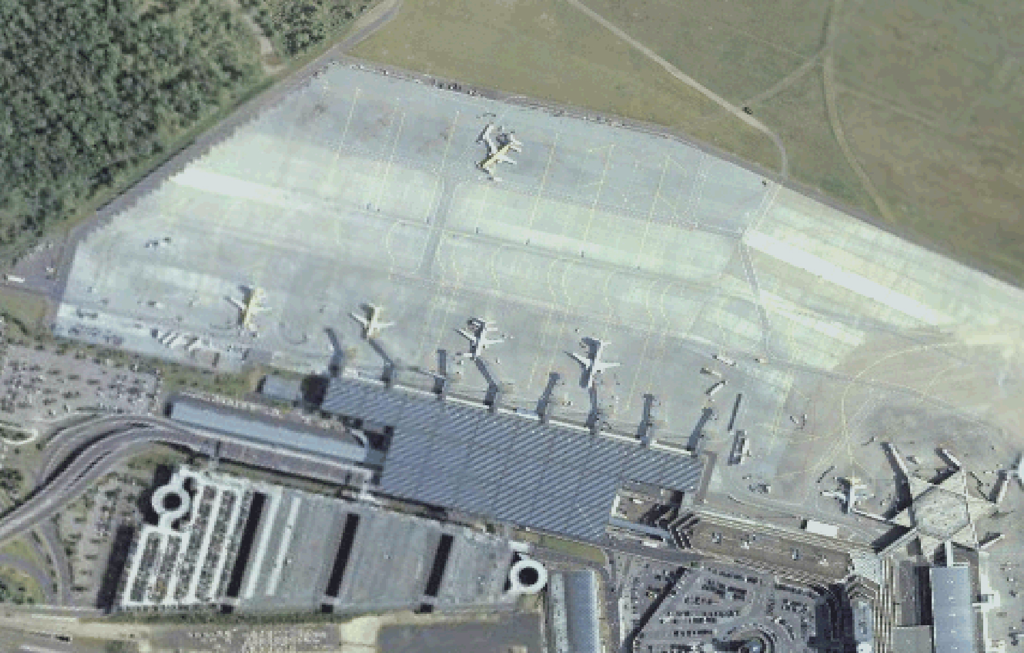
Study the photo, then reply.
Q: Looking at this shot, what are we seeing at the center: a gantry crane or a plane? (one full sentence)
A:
There is a plane at the center.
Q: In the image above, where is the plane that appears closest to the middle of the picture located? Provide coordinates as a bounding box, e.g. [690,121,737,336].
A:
[462,316,505,358]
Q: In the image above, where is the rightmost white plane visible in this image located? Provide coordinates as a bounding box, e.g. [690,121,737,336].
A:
[828,473,877,515]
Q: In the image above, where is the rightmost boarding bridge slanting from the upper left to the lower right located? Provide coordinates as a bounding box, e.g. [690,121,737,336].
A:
[940,448,966,471]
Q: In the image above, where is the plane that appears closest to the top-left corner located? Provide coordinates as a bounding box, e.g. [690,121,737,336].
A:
[234,284,275,329]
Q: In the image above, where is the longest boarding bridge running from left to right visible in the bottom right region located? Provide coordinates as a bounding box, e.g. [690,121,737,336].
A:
[852,508,895,522]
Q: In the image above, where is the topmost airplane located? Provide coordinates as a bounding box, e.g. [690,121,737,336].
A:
[480,133,520,169]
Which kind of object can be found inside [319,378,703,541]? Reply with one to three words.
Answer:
building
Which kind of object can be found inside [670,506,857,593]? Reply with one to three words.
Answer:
building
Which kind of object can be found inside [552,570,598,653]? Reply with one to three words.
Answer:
hangar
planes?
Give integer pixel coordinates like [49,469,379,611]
[575,337,621,390]
[234,284,275,329]
[462,316,505,358]
[828,473,877,515]
[356,301,396,338]
[480,133,520,169]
